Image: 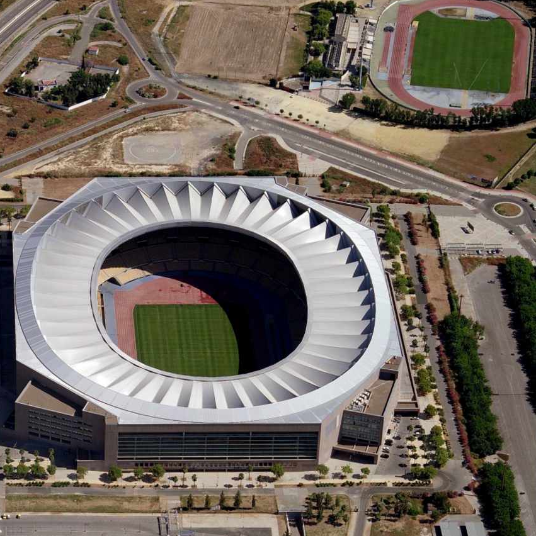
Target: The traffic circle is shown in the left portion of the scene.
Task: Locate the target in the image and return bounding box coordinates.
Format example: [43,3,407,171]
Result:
[123,76,176,104]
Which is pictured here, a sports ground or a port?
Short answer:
sports ground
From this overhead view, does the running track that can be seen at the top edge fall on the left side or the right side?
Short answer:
right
